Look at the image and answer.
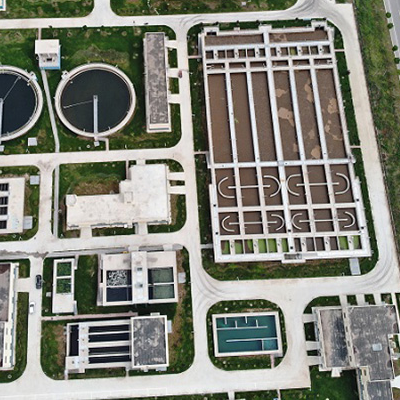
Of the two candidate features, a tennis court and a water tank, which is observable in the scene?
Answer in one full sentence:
Of the two, only a water tank appears.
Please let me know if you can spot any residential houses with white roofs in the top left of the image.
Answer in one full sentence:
Yes, there is a residential house with a white roof in the top left of the image.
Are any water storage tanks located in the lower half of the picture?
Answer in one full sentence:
Yes, a water storage tank appears in the lower half of the picture.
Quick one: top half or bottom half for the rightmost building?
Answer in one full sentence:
You can find the rightmost building in the bottom half.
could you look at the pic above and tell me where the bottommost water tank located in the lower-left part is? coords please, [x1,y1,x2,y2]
[66,320,133,378]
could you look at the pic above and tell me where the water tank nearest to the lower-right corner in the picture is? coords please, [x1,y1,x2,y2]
[212,312,286,360]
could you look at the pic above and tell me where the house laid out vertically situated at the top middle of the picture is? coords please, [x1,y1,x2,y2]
[144,32,172,133]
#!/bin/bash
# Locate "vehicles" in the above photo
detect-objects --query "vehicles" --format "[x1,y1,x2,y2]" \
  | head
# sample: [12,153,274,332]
[29,301,36,316]
[35,274,42,289]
